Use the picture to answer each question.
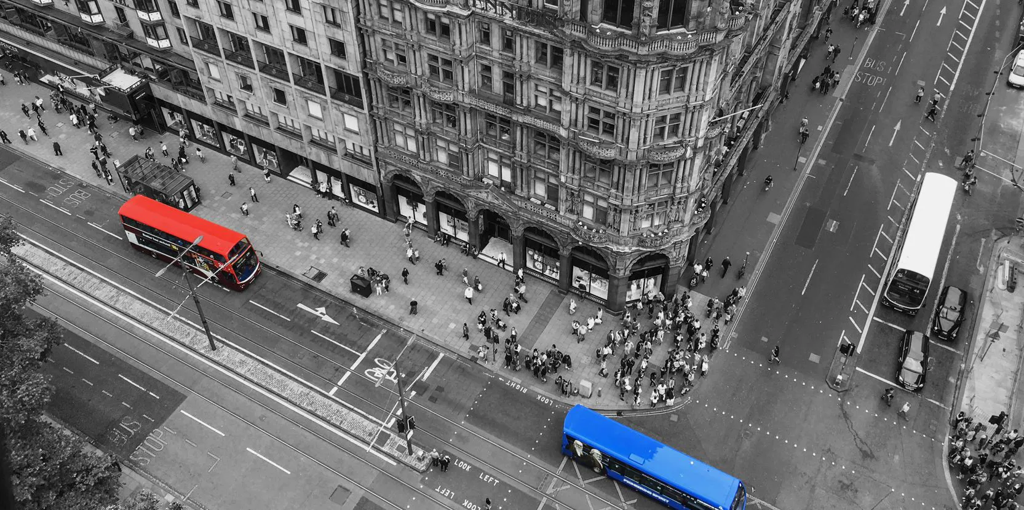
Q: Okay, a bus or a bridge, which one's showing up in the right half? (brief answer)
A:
bus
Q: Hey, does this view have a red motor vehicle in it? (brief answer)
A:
Yes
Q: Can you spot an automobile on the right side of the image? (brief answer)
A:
Yes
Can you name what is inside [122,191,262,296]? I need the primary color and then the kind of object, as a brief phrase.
red bus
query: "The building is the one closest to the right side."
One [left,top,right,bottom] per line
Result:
[346,0,839,309]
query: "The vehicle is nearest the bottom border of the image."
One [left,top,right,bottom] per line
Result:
[559,404,755,510]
